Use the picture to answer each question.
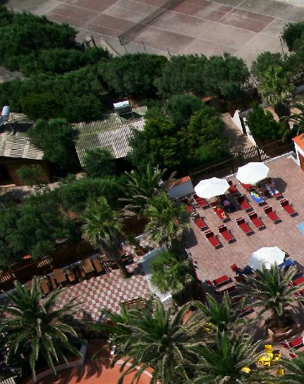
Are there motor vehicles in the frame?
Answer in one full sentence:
No, the frame has no motor vehicle in it.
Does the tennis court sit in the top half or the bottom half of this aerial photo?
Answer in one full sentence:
You can find the tennis court in the top half.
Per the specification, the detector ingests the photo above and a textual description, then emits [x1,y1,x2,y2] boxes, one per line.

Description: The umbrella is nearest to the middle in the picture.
[197,177,232,206]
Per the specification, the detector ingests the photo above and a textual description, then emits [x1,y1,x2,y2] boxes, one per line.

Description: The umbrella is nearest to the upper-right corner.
[240,163,274,193]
